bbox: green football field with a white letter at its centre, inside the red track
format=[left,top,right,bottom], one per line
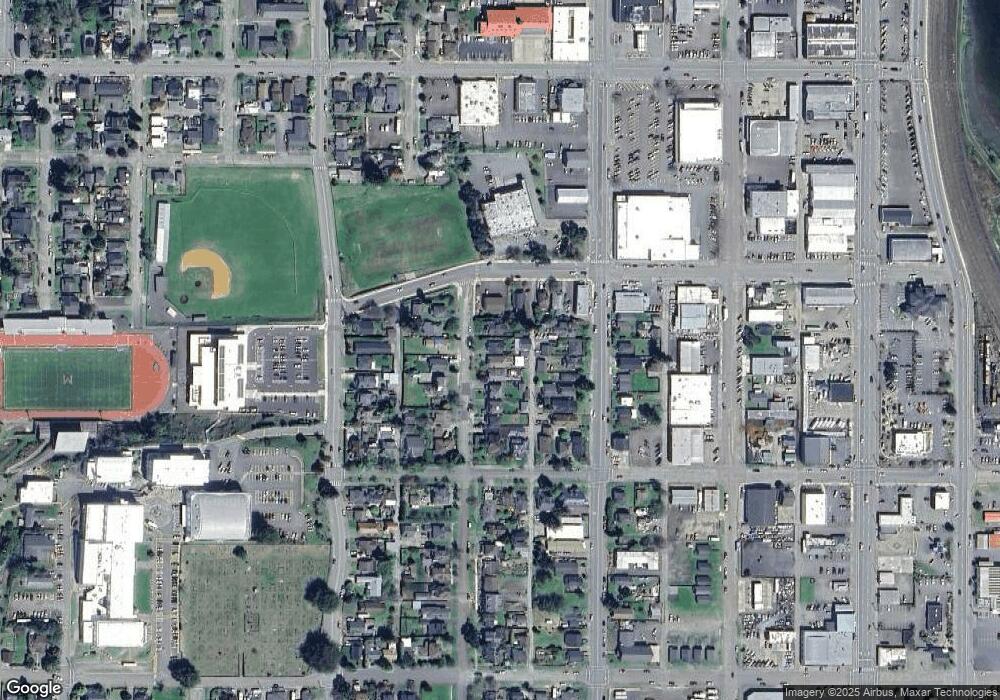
[3,347,134,410]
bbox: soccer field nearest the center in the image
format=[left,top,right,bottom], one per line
[334,185,479,298]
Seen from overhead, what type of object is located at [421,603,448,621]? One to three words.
house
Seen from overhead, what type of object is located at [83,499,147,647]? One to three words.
building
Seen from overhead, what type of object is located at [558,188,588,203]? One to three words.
house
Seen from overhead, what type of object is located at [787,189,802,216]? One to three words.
building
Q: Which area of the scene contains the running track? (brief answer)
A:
left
